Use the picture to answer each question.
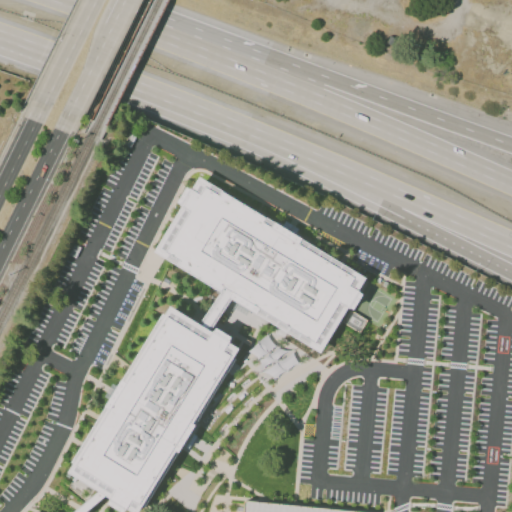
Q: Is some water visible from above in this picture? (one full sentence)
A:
No, there is no water in the image.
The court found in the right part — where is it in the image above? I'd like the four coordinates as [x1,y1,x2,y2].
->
[362,286,396,323]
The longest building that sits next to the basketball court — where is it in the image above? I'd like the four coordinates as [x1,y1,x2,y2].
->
[154,176,369,354]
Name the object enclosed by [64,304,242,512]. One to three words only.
building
